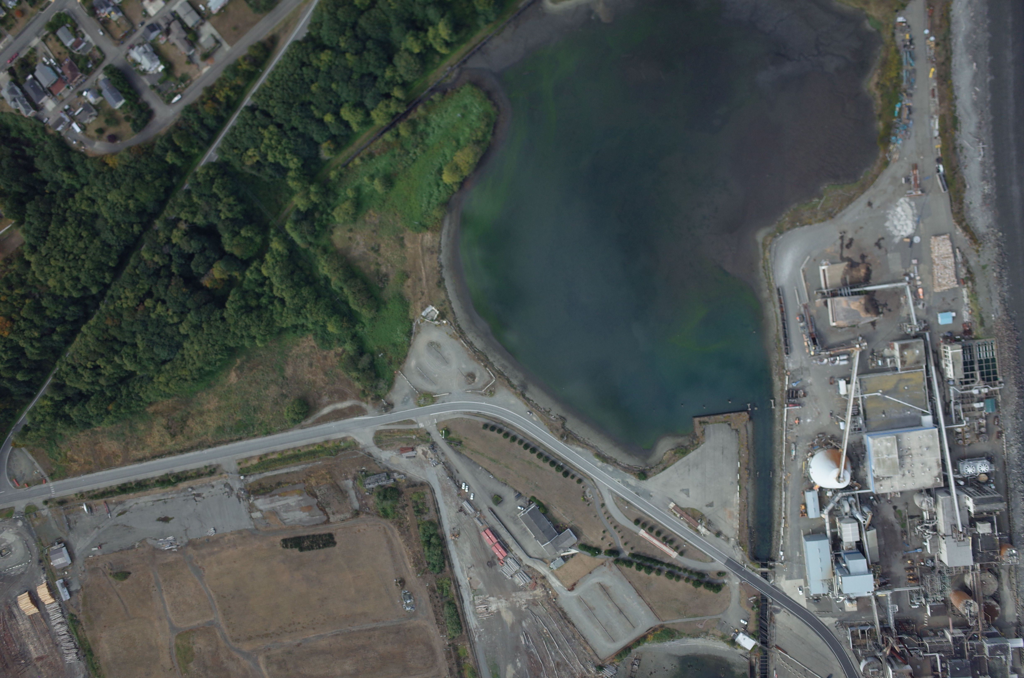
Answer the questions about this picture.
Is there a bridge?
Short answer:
Yes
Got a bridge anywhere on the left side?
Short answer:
No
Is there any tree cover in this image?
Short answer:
Yes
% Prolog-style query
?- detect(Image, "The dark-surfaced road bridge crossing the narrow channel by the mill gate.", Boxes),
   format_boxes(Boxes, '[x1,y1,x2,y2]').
[726,558,782,604]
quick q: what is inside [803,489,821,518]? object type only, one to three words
shed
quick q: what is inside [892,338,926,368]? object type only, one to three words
building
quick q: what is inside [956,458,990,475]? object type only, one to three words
cooling tower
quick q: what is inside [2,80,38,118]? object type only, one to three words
house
